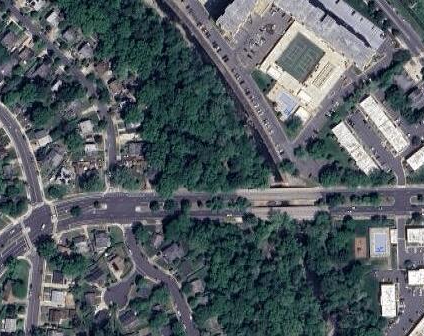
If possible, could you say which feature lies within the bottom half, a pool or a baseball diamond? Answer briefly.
pool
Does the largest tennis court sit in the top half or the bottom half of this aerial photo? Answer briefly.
top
